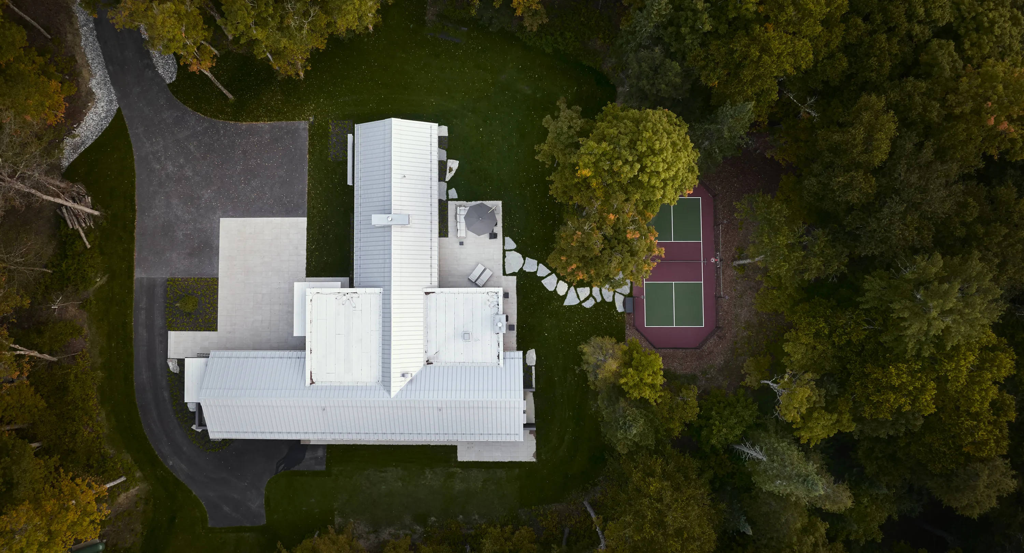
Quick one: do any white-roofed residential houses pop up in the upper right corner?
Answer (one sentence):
No, I can find no white-roofed residential house in the upper right corner.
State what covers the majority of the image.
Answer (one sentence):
For the most part, this view shows trees.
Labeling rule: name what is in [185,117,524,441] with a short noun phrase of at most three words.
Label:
house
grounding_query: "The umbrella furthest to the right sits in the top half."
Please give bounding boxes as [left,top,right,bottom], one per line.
[464,202,500,236]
